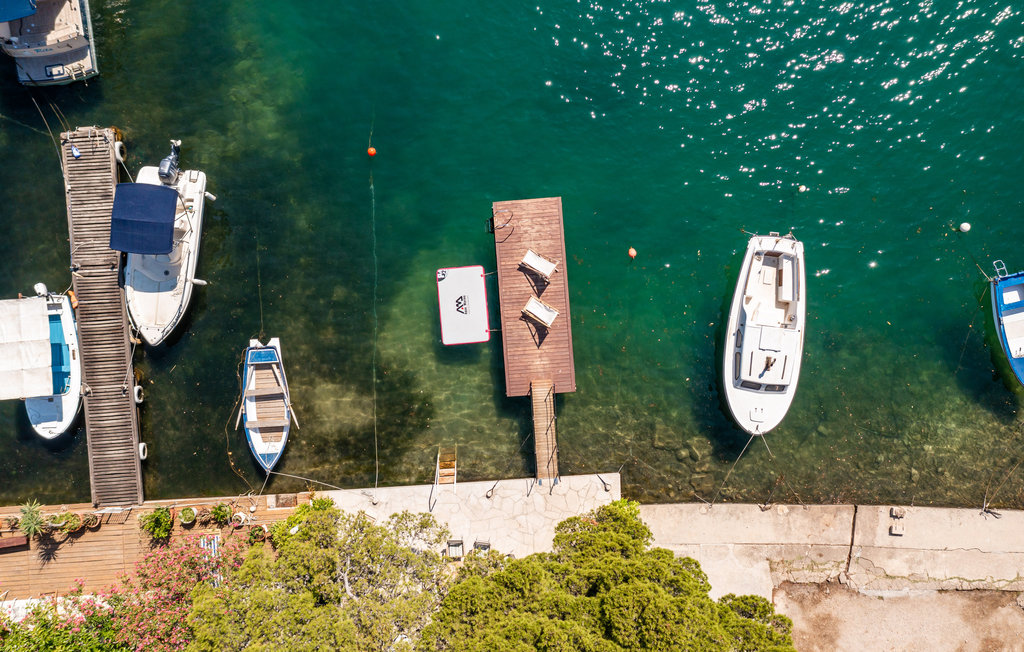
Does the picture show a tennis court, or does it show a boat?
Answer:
boat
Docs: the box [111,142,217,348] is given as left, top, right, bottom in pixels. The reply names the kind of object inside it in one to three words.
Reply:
boat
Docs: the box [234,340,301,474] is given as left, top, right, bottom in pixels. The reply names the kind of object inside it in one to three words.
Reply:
boat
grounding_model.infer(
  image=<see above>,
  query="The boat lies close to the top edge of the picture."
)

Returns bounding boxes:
[0,0,103,88]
